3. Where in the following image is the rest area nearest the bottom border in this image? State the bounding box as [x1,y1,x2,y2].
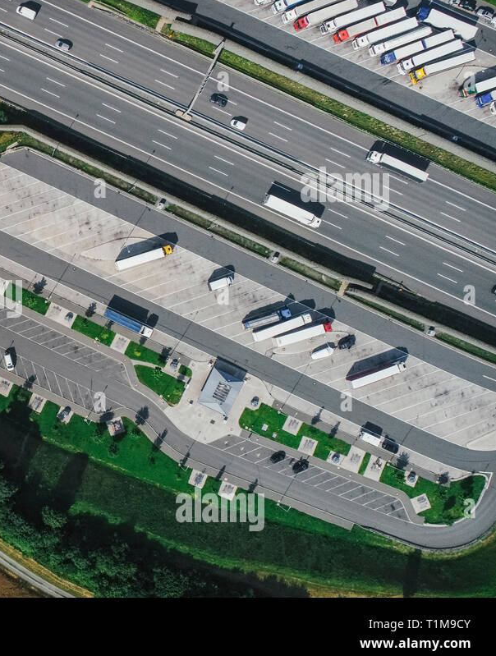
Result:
[0,146,496,553]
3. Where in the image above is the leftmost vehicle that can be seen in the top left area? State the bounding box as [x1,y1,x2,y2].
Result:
[17,6,35,20]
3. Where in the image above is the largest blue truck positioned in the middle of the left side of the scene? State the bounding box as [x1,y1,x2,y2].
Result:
[102,308,156,339]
